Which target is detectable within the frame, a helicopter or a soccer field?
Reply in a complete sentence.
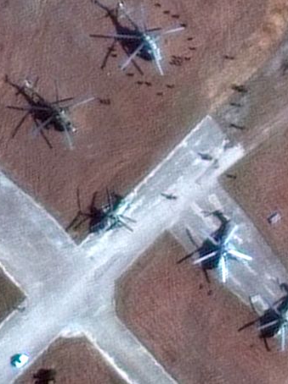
The image shows a helicopter.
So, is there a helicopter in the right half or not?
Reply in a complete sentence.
Yes, a helicopter appears in the right half.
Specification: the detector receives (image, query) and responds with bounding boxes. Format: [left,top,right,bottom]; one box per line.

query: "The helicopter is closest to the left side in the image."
[19,74,94,143]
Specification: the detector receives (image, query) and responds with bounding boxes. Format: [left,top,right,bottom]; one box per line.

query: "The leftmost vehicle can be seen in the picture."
[10,353,30,370]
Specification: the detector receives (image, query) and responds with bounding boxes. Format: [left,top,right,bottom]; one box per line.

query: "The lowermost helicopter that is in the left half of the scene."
[77,184,147,256]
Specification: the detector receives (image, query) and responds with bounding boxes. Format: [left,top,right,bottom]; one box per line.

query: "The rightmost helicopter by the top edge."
[107,1,182,70]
